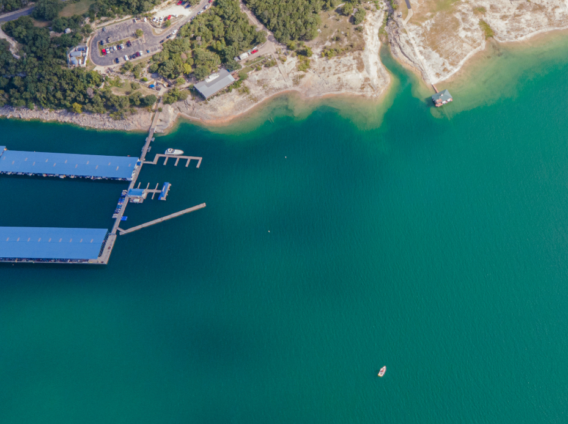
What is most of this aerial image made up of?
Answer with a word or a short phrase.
water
